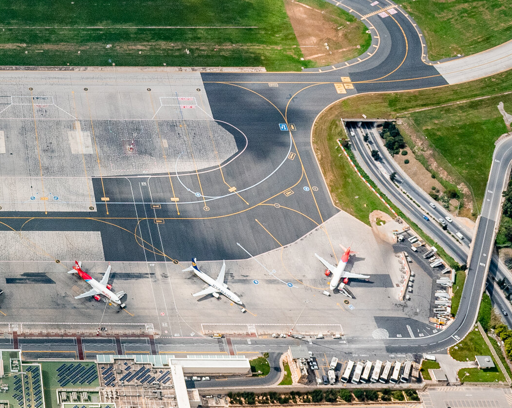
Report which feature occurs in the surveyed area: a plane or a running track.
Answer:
plane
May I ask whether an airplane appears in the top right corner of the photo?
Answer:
No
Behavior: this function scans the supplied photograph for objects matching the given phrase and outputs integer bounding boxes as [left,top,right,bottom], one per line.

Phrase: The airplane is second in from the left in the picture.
[187,259,244,305]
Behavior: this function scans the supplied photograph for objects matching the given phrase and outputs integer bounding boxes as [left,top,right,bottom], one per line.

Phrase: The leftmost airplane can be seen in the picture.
[70,260,123,305]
